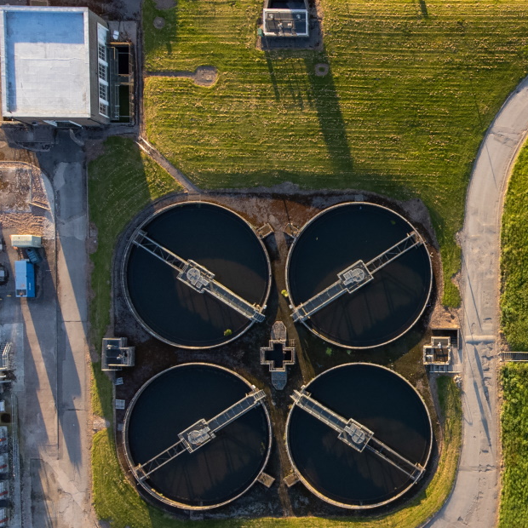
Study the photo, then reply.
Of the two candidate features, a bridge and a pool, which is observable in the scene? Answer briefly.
bridge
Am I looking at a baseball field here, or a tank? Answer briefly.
tank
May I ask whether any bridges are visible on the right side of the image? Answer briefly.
Yes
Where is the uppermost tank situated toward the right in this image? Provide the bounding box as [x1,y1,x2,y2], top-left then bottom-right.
[286,202,434,349]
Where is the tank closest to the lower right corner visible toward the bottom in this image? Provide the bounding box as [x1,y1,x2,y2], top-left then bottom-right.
[285,362,435,510]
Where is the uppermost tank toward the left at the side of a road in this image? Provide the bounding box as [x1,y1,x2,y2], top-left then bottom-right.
[123,201,274,350]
